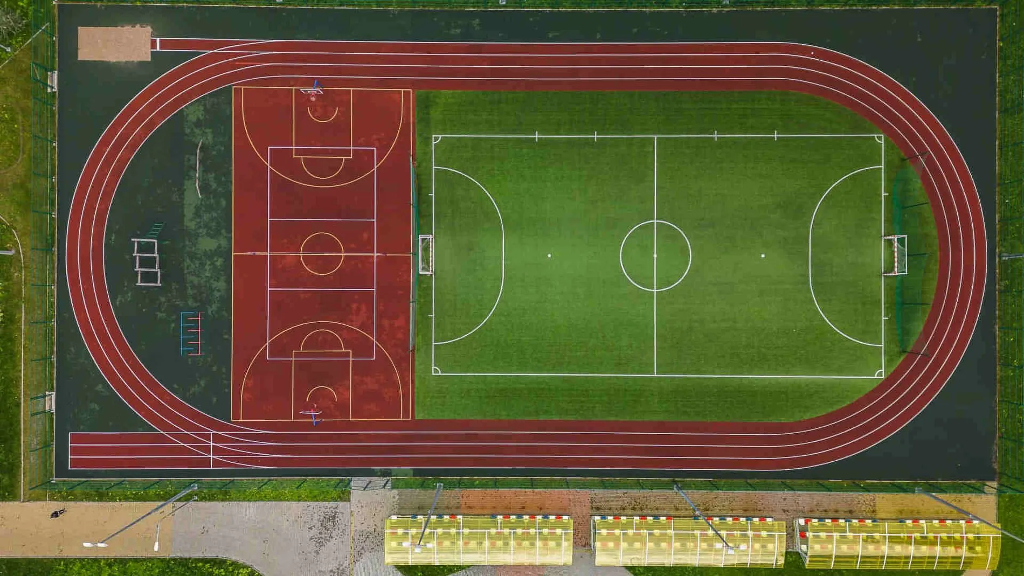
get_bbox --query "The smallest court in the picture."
[267,147,376,359]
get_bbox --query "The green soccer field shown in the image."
[416,90,938,422]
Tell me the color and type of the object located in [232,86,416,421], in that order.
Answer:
red basketball court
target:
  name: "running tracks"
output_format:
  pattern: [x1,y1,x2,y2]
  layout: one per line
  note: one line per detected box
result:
[66,40,987,470]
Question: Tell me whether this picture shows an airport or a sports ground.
sports ground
